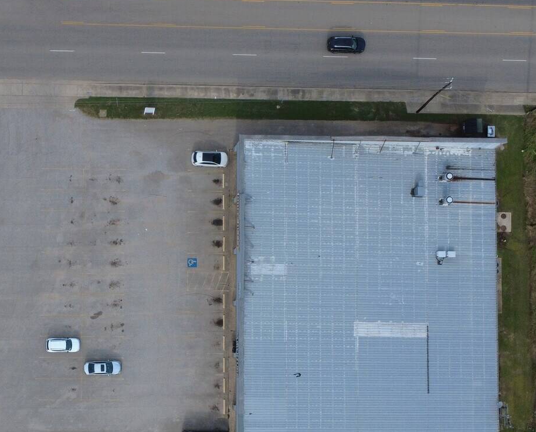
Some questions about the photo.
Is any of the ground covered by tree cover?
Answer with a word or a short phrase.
No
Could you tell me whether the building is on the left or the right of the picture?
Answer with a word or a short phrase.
right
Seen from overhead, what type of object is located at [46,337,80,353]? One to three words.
car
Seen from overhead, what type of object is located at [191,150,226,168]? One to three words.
car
